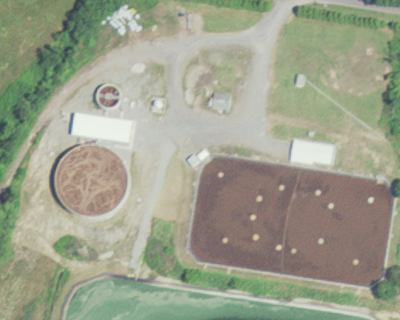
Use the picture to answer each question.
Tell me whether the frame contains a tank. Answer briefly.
Yes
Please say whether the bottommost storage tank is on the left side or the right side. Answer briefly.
left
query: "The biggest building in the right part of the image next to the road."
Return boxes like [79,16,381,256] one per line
[291,138,336,166]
